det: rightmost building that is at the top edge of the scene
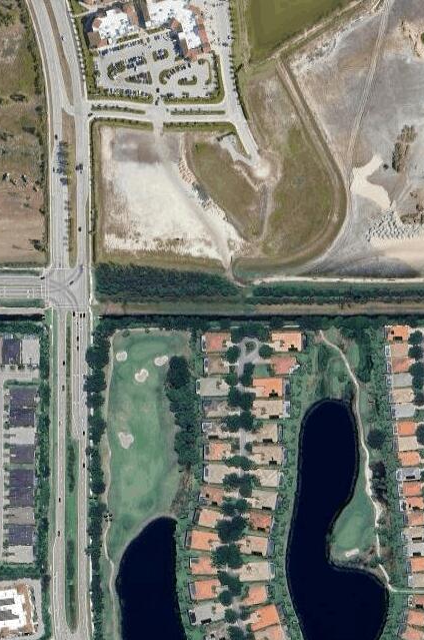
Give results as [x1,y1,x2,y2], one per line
[140,0,212,60]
